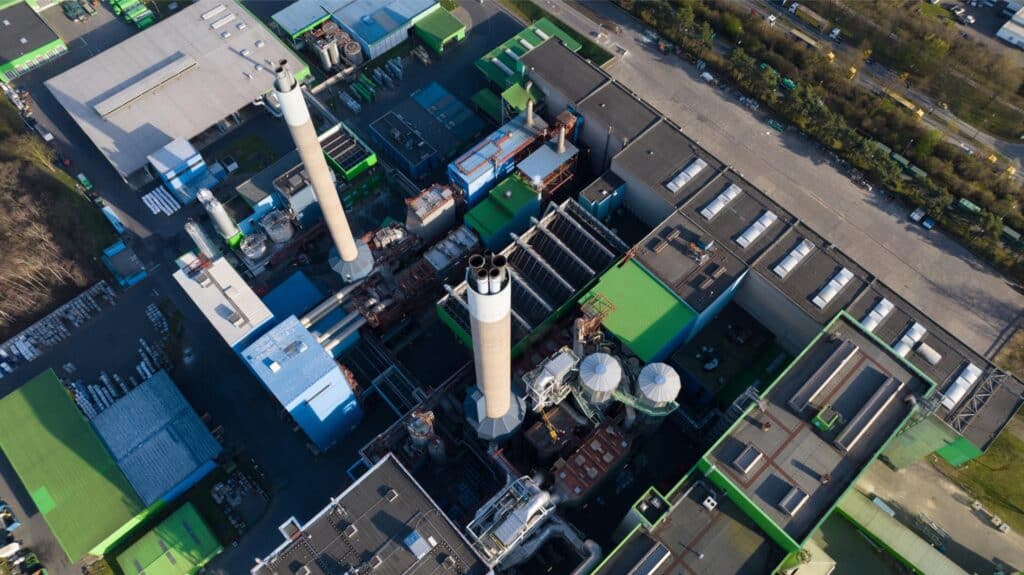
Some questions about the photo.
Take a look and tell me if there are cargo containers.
Yes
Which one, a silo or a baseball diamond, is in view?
silo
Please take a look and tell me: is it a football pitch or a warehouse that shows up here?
warehouse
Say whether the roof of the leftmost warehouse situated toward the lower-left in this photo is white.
No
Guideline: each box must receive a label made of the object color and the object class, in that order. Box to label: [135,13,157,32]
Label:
green vehicle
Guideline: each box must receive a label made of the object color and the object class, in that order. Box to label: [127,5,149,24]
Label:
green vehicle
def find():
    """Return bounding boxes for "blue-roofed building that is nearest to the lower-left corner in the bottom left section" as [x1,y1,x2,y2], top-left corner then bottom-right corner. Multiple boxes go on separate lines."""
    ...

[93,370,229,510]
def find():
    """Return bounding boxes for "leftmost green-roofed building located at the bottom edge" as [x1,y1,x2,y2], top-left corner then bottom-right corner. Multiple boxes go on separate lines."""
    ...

[0,365,156,564]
